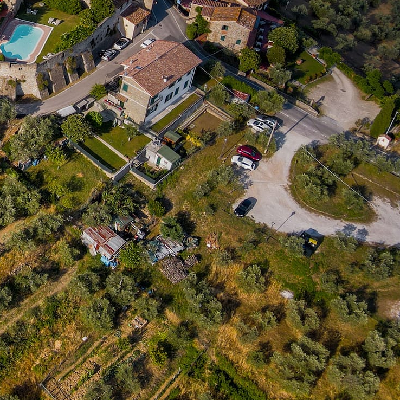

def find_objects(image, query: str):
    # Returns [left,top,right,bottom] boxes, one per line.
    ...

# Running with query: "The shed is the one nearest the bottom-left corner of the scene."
[84,224,125,271]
